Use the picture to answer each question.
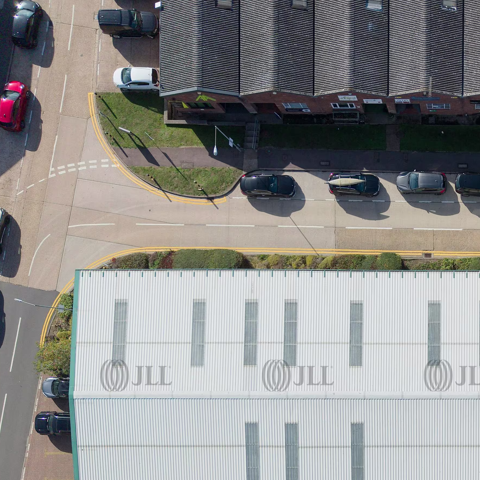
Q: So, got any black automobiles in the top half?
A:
Yes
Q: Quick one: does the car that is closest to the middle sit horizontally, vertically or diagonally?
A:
horizontally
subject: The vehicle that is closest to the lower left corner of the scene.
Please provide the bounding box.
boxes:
[35,409,69,438]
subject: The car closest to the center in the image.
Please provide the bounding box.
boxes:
[241,172,297,200]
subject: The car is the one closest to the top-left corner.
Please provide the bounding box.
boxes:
[10,1,45,50]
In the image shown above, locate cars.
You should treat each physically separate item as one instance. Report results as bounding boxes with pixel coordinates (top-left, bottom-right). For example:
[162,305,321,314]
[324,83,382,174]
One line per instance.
[114,64,158,92]
[93,0,158,38]
[329,168,382,198]
[397,167,448,196]
[43,374,67,401]
[10,1,45,50]
[0,80,30,133]
[455,173,480,198]
[241,172,297,200]
[35,409,69,438]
